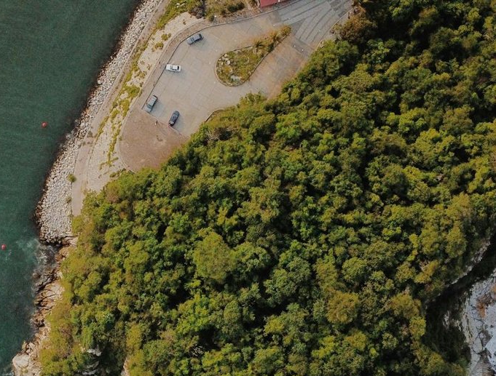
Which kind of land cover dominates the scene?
trees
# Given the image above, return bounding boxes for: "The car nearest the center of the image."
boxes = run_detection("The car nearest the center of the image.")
[168,109,181,126]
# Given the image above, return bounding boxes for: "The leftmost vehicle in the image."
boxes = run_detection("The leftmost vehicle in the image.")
[146,94,158,112]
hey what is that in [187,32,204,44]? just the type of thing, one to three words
vehicle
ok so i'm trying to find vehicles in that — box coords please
[146,94,158,112]
[165,62,182,72]
[168,109,181,126]
[187,32,204,44]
